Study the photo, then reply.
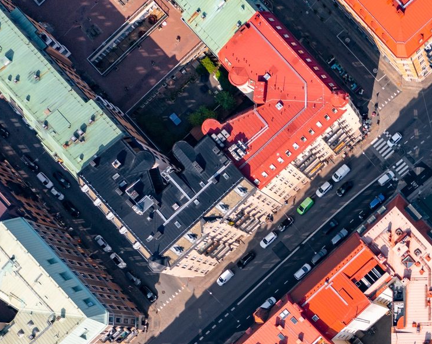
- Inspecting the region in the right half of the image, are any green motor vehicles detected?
Yes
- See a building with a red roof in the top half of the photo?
Yes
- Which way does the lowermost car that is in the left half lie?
diagonally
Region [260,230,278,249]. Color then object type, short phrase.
white car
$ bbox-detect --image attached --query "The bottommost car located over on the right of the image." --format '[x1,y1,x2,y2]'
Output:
[259,295,278,312]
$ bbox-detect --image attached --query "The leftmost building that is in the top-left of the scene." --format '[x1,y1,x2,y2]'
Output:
[0,0,148,176]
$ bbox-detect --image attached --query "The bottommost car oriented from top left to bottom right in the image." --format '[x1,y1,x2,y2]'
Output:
[139,282,159,303]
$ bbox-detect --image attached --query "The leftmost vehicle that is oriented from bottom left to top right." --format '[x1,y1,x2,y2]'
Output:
[215,265,237,289]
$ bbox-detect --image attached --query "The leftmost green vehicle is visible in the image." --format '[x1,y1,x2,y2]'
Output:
[295,193,317,218]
